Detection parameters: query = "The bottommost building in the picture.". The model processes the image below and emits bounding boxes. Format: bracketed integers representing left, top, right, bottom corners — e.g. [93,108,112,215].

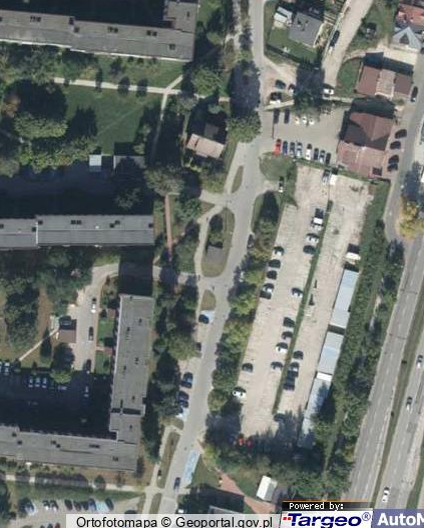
[206,506,246,528]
